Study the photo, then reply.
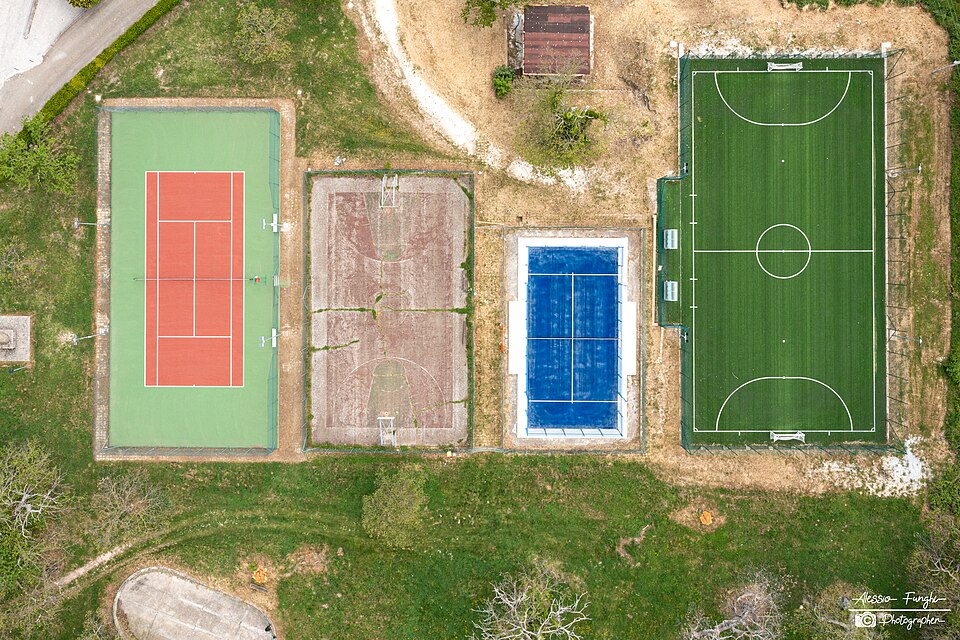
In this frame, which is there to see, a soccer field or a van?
soccer field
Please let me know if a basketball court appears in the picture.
Yes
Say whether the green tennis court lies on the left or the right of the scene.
left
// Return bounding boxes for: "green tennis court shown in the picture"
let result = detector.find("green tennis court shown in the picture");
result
[109,111,279,448]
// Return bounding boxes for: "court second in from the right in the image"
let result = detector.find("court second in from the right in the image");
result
[308,176,472,444]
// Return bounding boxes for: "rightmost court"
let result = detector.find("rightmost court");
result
[506,231,639,448]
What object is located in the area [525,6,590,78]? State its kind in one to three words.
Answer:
shed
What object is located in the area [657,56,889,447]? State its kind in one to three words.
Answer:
soccer field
